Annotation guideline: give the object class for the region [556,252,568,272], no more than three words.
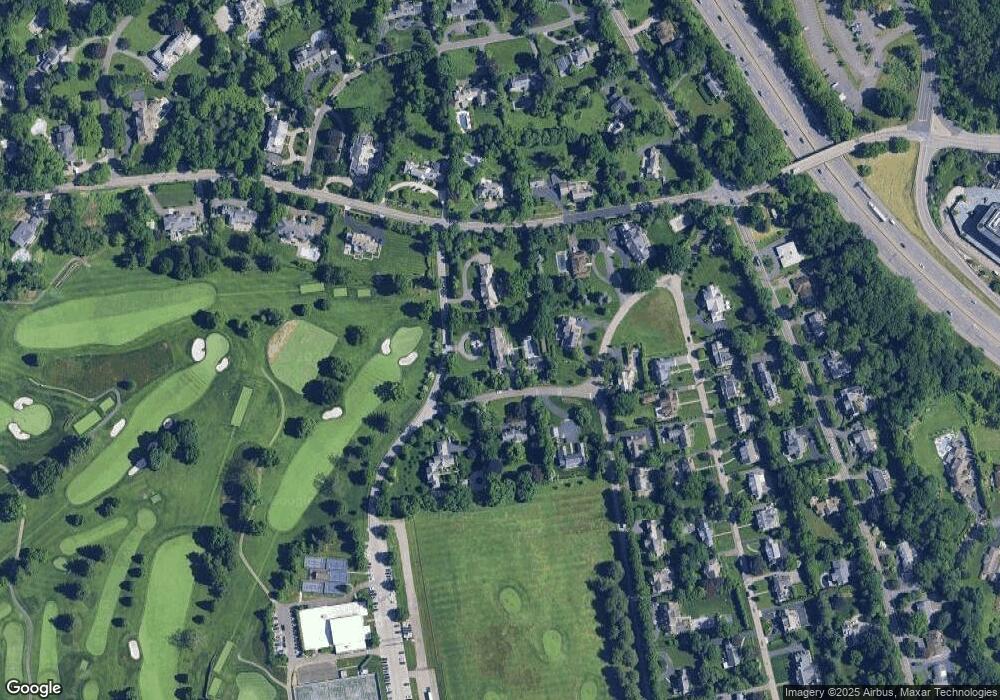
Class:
swimming pool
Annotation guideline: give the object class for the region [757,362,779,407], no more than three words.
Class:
house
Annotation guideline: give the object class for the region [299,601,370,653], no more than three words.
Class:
building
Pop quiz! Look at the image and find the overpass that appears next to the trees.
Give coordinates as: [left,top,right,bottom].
[780,138,856,181]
